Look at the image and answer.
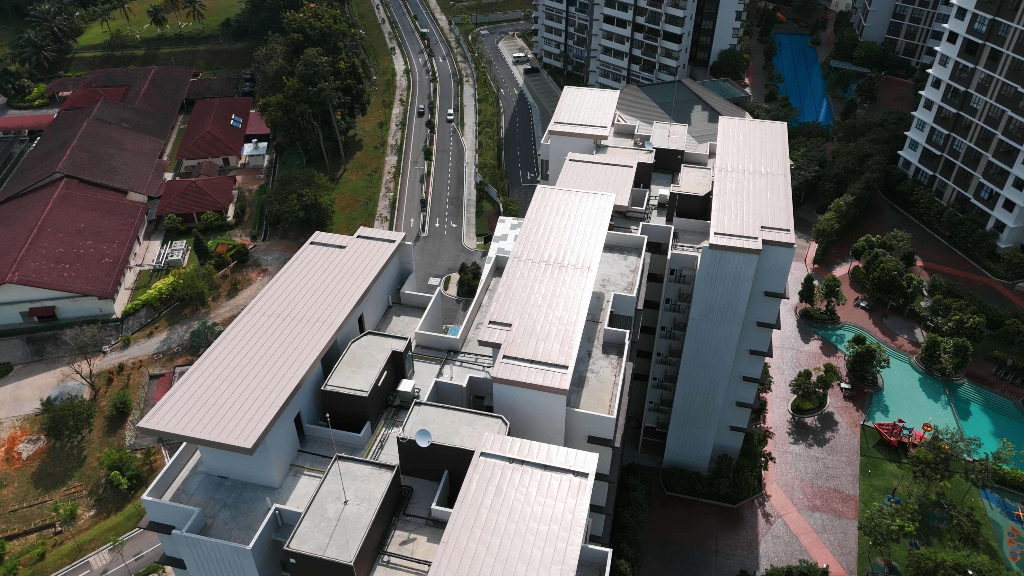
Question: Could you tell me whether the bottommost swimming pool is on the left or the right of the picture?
right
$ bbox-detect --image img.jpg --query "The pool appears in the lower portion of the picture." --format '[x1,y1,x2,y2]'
[816,325,1024,468]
